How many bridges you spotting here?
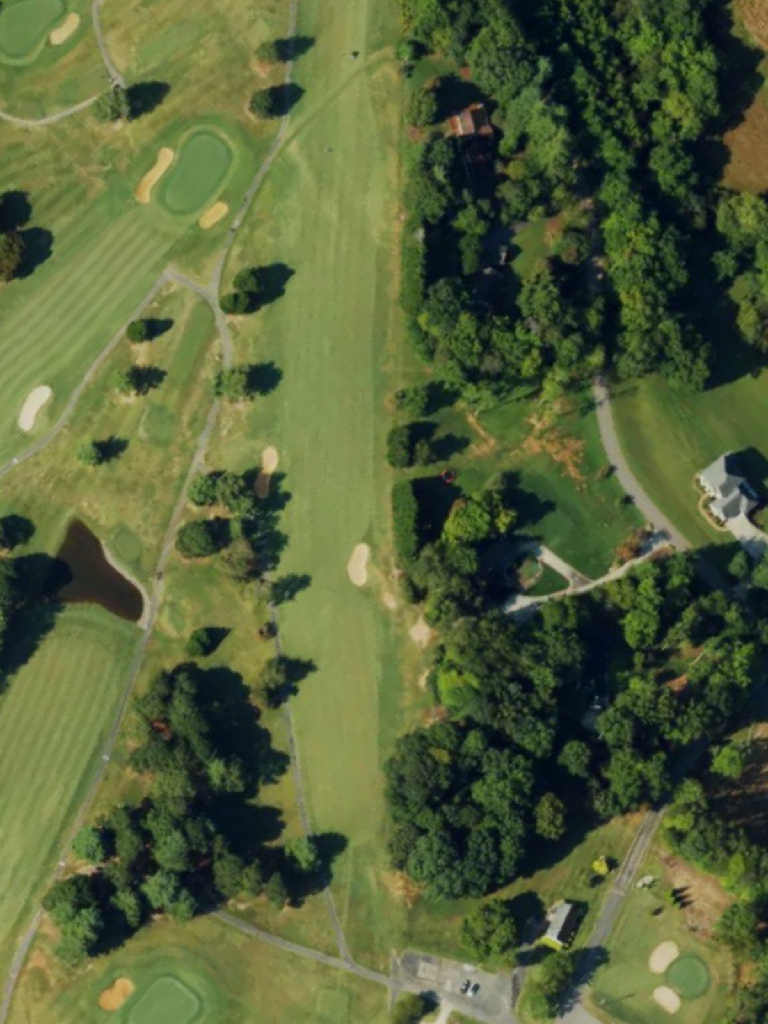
0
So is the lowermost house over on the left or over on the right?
right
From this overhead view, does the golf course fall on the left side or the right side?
left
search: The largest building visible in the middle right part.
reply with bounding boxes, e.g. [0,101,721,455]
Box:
[696,450,762,521]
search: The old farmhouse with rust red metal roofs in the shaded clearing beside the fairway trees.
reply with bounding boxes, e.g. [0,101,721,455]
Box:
[450,102,492,135]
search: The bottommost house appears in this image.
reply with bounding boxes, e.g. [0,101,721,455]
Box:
[544,900,580,949]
